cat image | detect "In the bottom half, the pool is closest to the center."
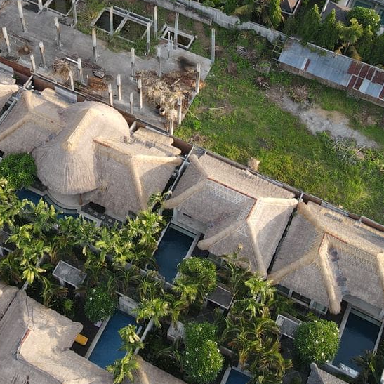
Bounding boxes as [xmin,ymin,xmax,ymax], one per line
[142,223,202,283]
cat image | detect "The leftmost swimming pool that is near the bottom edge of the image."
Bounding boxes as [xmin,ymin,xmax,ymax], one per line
[88,304,148,375]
